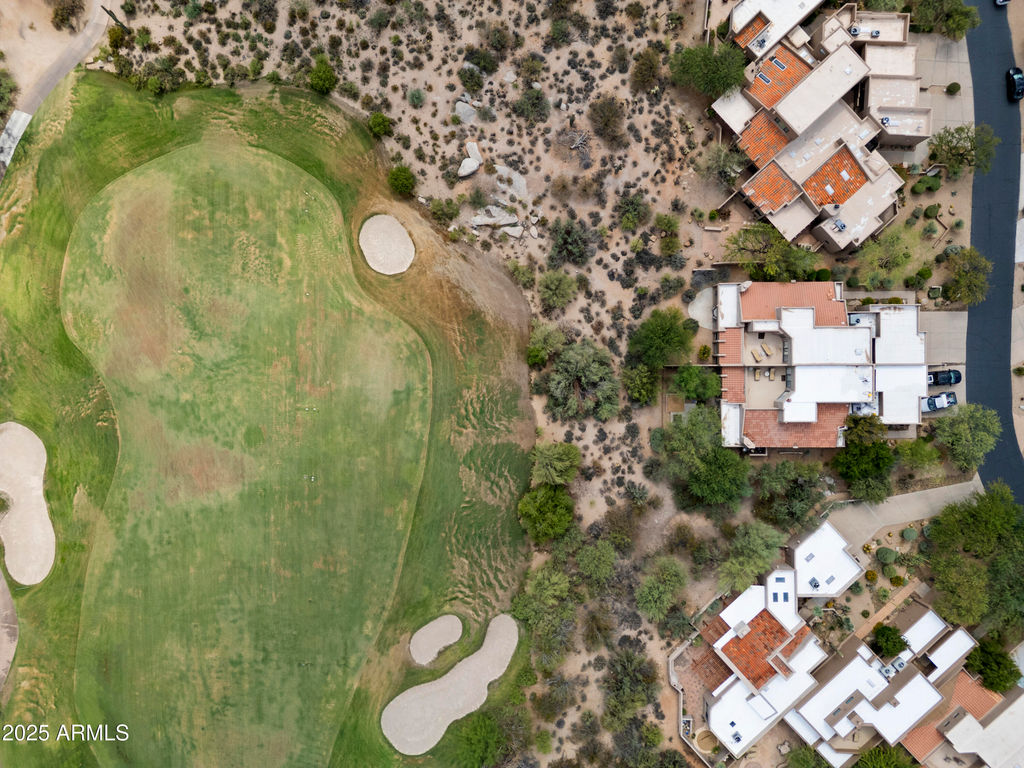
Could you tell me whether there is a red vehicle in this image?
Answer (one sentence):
No, the photo shows no red vehicle.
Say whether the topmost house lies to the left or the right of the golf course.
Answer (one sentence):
Relative to the golf course, the topmost house is on the right.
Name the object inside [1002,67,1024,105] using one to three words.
car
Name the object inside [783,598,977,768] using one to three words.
house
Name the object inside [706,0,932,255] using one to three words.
house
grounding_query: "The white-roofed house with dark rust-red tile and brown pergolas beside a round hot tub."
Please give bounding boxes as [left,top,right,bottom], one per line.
[688,515,865,759]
